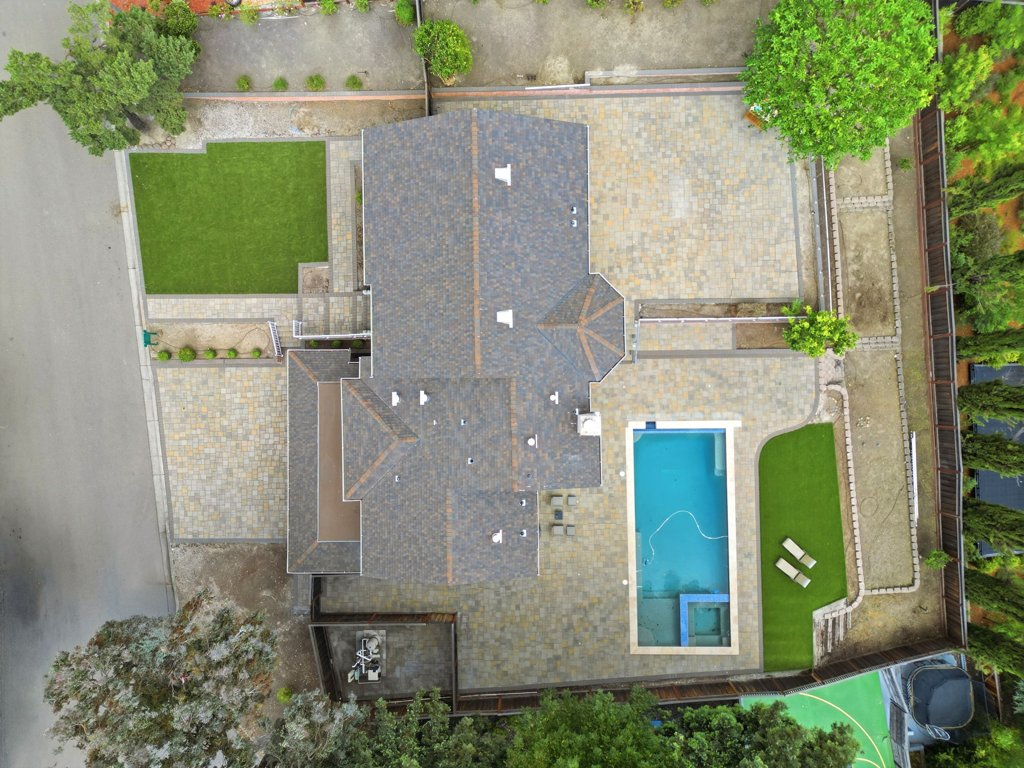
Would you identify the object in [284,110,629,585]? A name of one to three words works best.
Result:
house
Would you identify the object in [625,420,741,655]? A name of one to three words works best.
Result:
swimming pool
